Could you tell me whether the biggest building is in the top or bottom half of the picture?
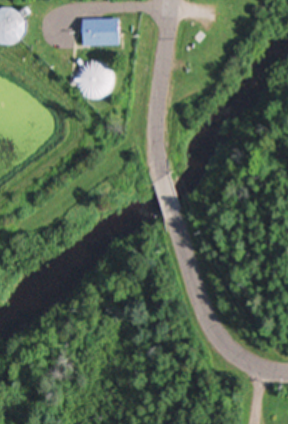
top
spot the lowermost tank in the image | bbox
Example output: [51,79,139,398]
[72,60,117,100]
